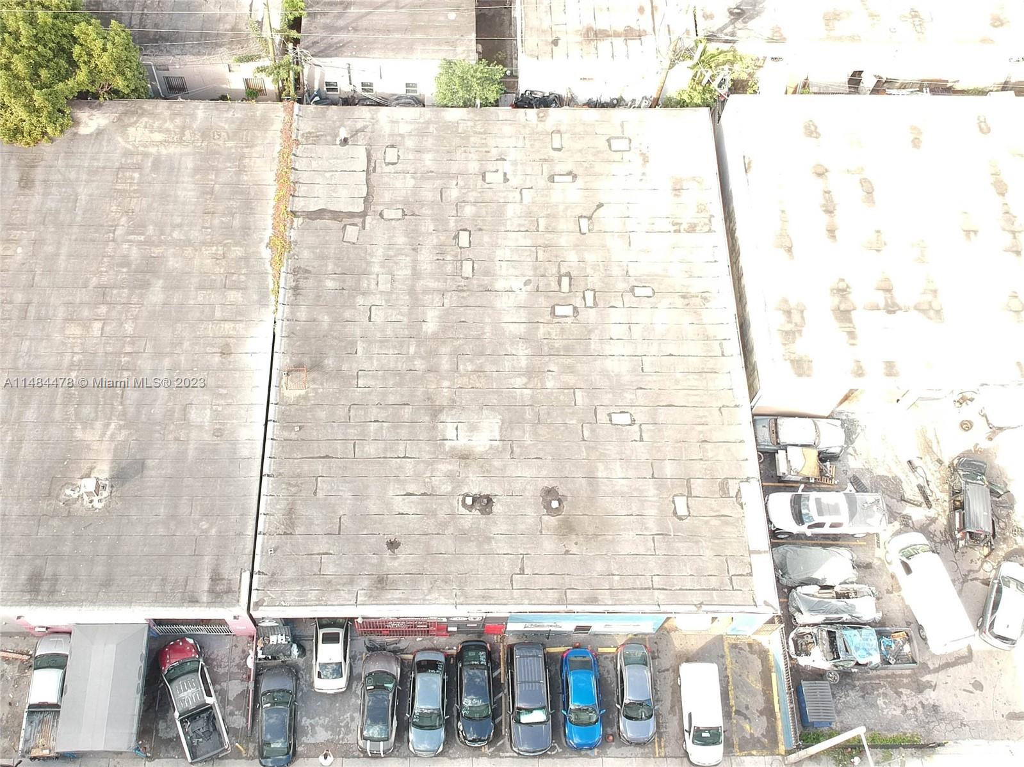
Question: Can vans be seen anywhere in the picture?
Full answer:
Yes, there is a van in the image.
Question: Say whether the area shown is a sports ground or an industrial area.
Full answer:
The picture captures an industrial area.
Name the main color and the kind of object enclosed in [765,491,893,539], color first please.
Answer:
white truck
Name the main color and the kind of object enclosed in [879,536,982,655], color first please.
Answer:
white van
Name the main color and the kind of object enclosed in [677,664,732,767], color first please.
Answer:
white van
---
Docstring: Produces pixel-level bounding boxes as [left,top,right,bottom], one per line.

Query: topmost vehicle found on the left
[309,622,352,694]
